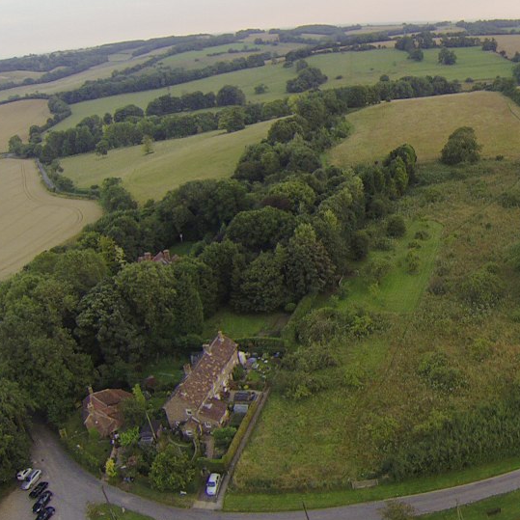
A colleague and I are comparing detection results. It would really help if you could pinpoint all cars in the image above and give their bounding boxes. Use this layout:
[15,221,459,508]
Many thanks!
[33,489,51,508]
[207,470,220,492]
[21,466,41,486]
[34,504,55,520]
[14,462,32,479]
[27,478,50,497]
